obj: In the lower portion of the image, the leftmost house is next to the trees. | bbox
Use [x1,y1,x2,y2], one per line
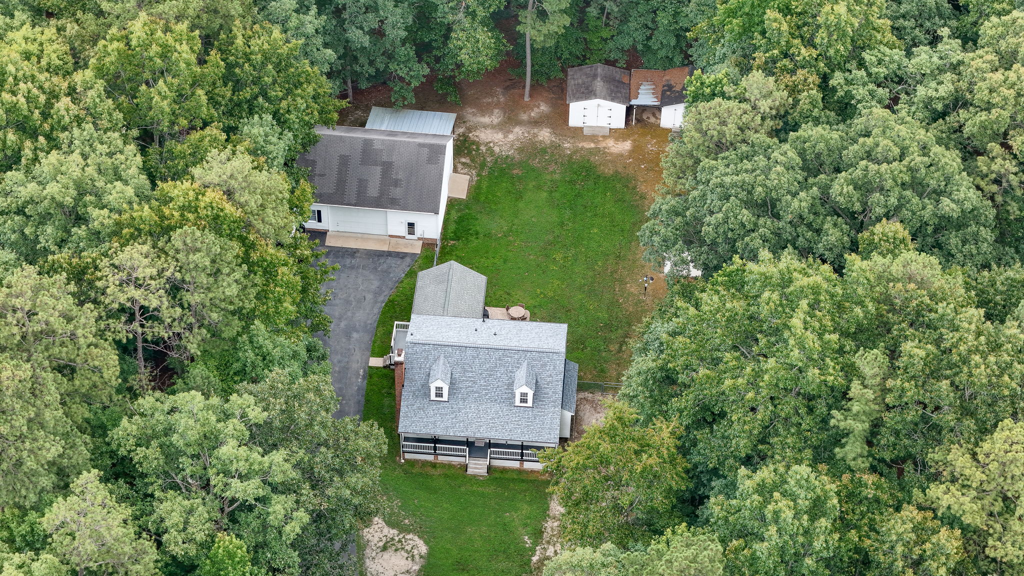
[380,261,578,475]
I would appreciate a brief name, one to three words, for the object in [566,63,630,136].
shed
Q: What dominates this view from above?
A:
trees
